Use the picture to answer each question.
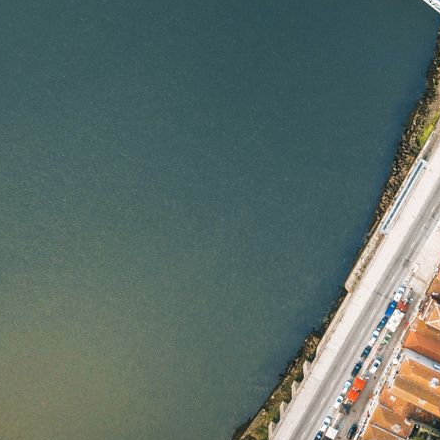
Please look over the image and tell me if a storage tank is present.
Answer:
No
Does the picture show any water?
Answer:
Yes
